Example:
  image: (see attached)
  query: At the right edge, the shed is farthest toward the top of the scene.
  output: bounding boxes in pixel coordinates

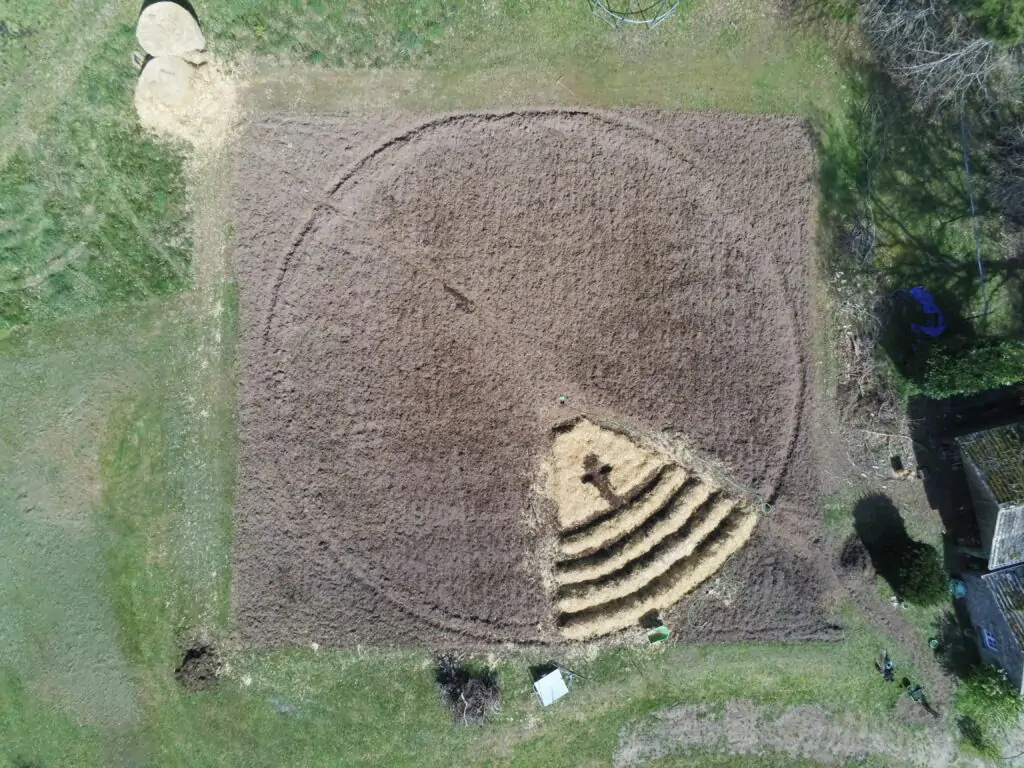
[920,410,1024,579]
